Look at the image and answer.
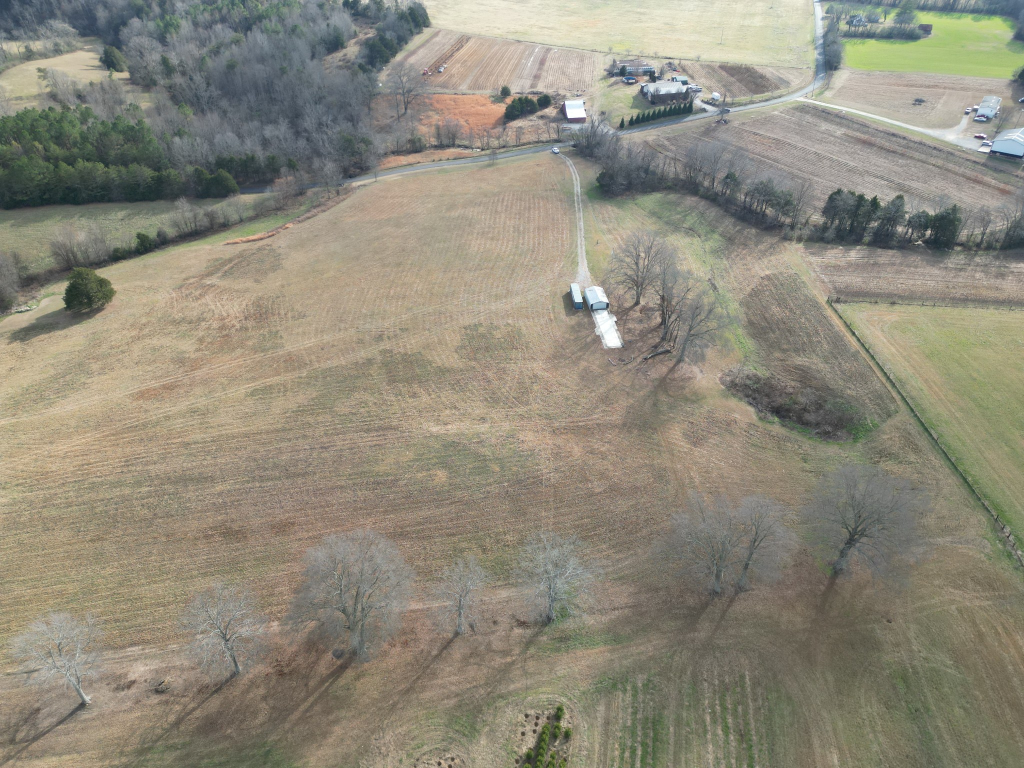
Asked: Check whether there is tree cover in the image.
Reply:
Yes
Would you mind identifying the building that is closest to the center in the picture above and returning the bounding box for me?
[584,285,610,310]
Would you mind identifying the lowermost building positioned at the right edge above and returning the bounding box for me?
[989,127,1024,162]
